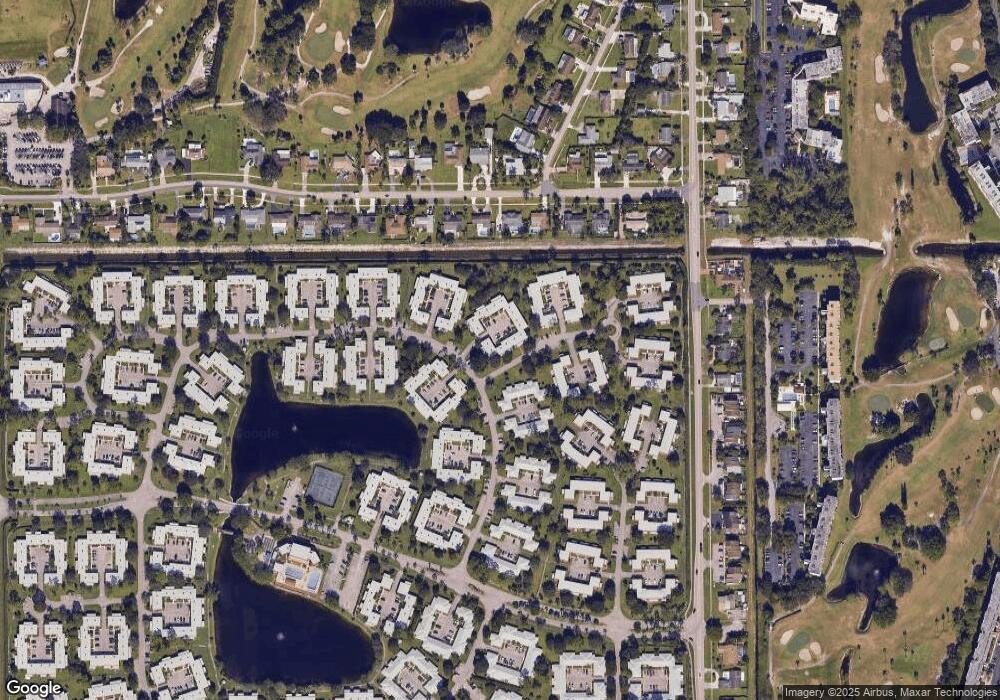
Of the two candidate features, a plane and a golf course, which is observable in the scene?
golf course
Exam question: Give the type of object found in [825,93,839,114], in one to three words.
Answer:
swimming pool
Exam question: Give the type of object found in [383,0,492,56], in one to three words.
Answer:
pond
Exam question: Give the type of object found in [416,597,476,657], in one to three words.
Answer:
building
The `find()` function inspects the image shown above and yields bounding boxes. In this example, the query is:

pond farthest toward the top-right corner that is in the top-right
[901,0,972,132]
